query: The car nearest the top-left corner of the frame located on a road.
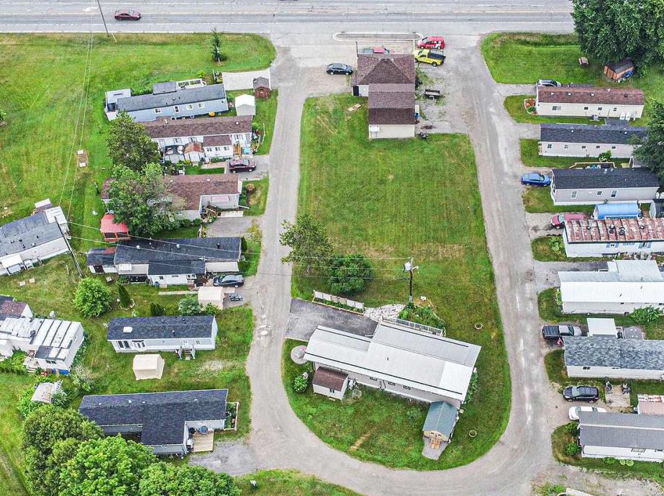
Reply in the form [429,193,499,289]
[113,9,140,21]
